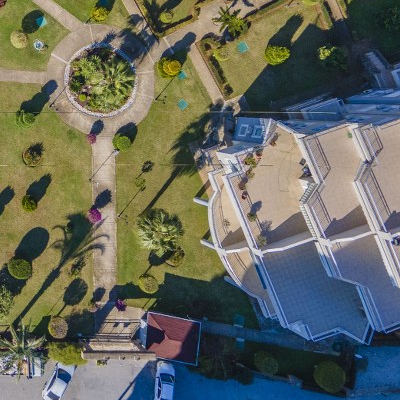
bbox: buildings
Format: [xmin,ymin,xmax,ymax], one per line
[138,309,202,366]
[199,65,400,346]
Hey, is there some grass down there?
Yes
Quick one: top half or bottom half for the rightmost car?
bottom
